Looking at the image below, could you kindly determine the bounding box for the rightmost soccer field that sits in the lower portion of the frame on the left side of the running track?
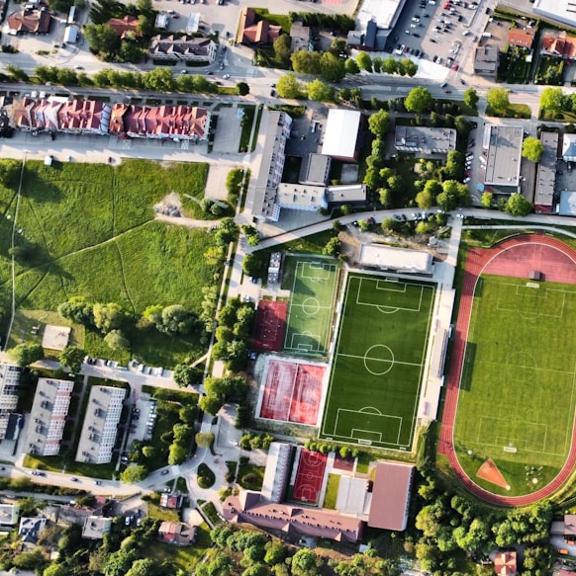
[317,270,439,452]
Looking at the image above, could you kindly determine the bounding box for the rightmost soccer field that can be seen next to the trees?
[456,274,576,501]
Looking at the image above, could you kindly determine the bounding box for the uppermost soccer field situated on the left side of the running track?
[278,256,344,360]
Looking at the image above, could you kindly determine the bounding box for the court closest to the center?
[254,301,288,352]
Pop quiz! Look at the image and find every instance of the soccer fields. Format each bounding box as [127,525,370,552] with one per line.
[456,274,576,501]
[317,270,439,452]
[278,256,344,360]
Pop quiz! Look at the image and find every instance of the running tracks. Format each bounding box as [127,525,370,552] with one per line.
[442,235,576,510]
